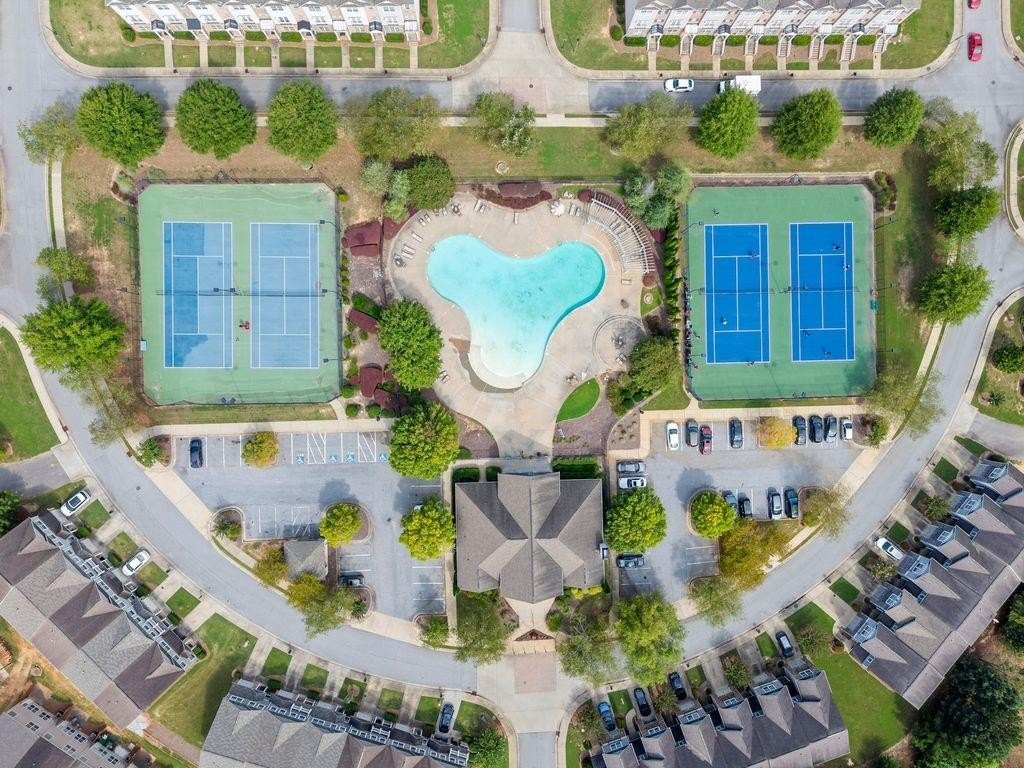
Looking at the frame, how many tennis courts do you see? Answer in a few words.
4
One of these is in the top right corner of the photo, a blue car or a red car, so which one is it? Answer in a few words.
red car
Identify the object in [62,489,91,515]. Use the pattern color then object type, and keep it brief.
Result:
white car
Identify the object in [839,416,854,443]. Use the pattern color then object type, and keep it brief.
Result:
white car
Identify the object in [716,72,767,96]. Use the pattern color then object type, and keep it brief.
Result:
white truck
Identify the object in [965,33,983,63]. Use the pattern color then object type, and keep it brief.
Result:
red car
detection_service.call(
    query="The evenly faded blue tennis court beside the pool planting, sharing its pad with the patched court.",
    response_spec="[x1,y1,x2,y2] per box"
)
[242,183,341,404]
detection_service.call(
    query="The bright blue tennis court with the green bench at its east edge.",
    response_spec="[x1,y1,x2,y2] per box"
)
[780,184,877,402]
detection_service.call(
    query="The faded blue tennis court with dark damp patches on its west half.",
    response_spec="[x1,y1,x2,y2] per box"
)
[138,183,242,405]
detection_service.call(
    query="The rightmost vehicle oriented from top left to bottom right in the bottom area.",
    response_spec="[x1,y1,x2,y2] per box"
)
[872,534,901,559]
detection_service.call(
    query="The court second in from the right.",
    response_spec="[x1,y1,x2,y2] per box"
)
[686,185,781,403]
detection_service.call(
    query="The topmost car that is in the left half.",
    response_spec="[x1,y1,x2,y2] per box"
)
[189,437,204,467]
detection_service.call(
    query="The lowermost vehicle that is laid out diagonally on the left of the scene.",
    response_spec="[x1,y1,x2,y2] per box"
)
[123,548,151,574]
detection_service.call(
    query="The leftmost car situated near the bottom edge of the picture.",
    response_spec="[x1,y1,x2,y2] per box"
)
[438,702,454,732]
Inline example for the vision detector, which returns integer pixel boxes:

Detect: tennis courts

[242,183,341,404]
[138,183,242,405]
[780,184,877,402]
[686,185,781,403]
